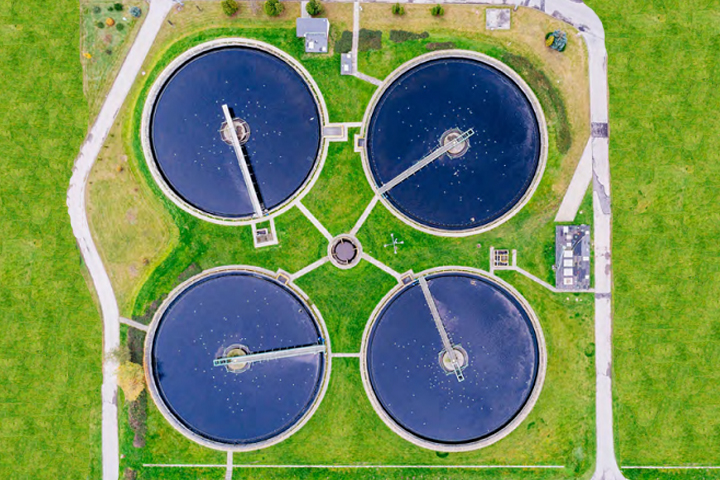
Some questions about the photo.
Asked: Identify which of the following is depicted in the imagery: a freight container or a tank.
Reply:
tank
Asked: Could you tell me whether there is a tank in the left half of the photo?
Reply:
Yes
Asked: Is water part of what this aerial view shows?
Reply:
Yes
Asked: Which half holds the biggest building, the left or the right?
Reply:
right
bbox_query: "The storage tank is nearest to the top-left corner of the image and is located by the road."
[146,43,322,219]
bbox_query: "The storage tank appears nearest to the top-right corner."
[368,55,544,231]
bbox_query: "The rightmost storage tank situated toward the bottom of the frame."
[366,272,542,448]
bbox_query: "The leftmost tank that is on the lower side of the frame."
[148,271,324,447]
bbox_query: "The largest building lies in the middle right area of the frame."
[555,225,591,290]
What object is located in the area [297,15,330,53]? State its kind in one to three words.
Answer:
building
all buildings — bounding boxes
[297,15,330,53]
[340,53,352,76]
[555,225,591,290]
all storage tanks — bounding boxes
[366,272,542,448]
[148,271,324,447]
[146,43,322,219]
[368,55,544,231]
